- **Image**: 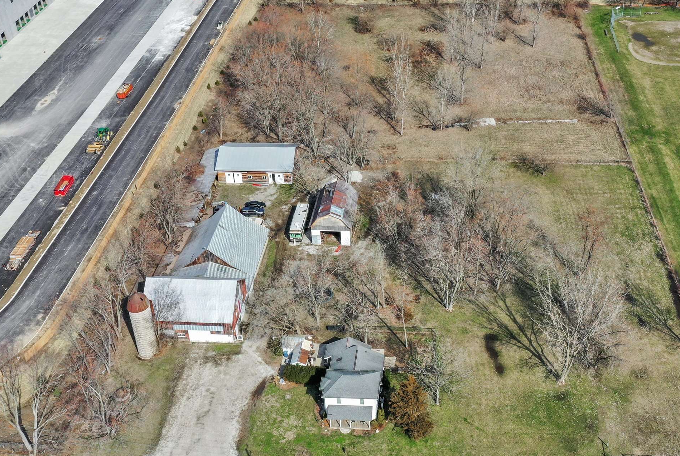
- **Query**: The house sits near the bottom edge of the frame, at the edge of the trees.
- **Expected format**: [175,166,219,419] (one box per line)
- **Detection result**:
[319,341,385,437]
